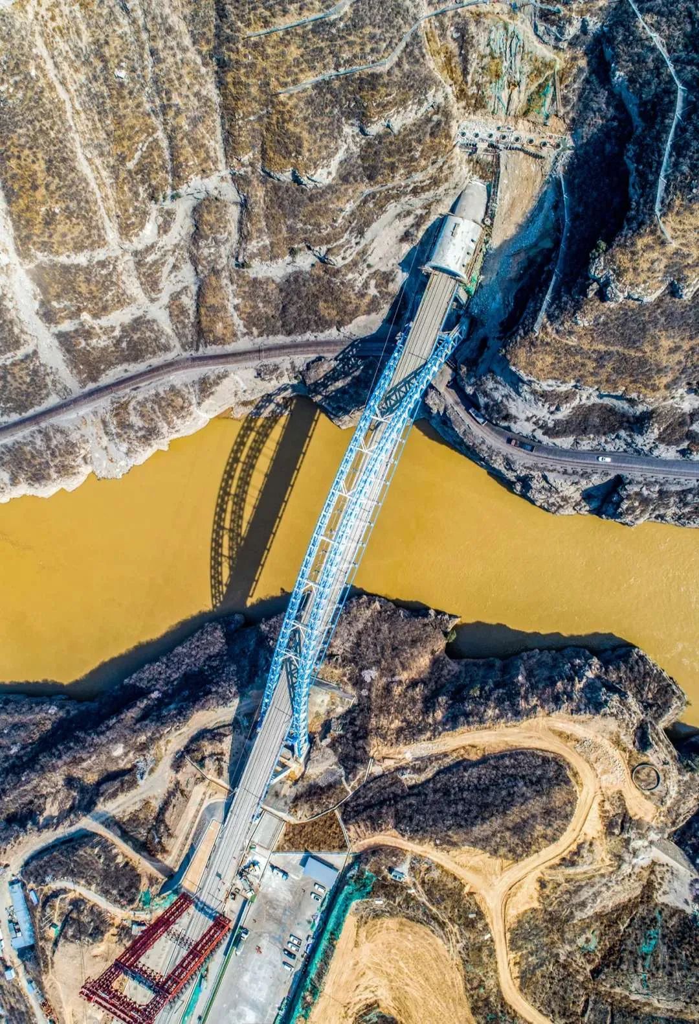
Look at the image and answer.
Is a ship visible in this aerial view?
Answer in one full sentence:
No, the picture doesn't show any ship.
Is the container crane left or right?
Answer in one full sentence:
The container crane appears in the left half of the scene.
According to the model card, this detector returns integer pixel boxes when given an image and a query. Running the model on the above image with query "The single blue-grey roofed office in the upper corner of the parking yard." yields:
[304,854,341,888]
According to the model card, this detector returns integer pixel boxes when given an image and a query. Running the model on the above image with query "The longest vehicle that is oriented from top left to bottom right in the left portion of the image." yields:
[237,875,253,899]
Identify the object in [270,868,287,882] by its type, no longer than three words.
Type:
vehicle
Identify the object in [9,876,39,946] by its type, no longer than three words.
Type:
building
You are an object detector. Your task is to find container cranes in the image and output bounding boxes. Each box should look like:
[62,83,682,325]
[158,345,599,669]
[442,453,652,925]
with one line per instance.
[82,890,230,1024]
